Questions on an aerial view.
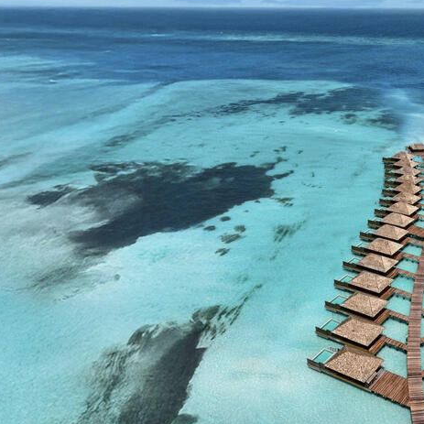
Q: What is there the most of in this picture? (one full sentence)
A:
The bulk of the photo consists of water.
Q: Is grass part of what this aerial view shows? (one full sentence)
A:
No, the scene doesn't show any grass.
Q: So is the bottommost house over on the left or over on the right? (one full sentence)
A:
It is on the right.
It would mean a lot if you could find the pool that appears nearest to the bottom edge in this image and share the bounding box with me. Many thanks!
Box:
[310,346,337,365]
